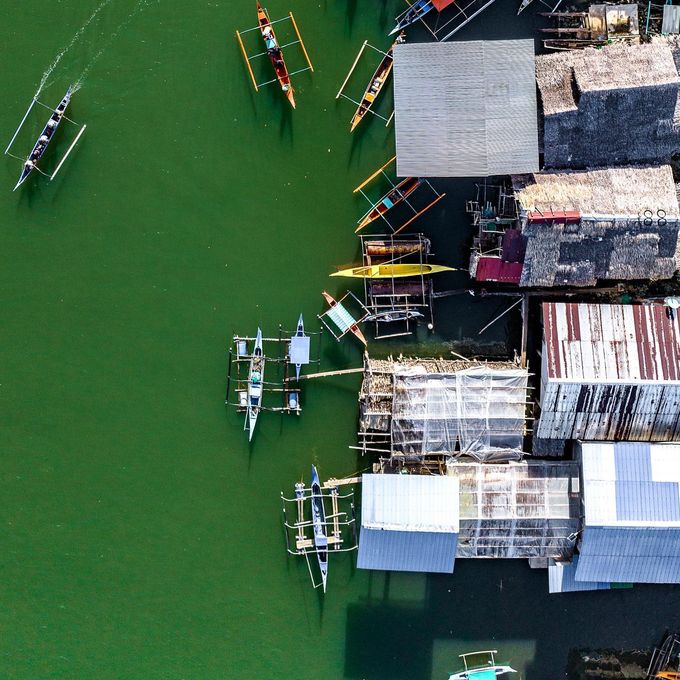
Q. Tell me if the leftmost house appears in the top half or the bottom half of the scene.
bottom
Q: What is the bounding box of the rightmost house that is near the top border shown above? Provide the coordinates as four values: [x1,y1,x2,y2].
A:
[536,31,680,173]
